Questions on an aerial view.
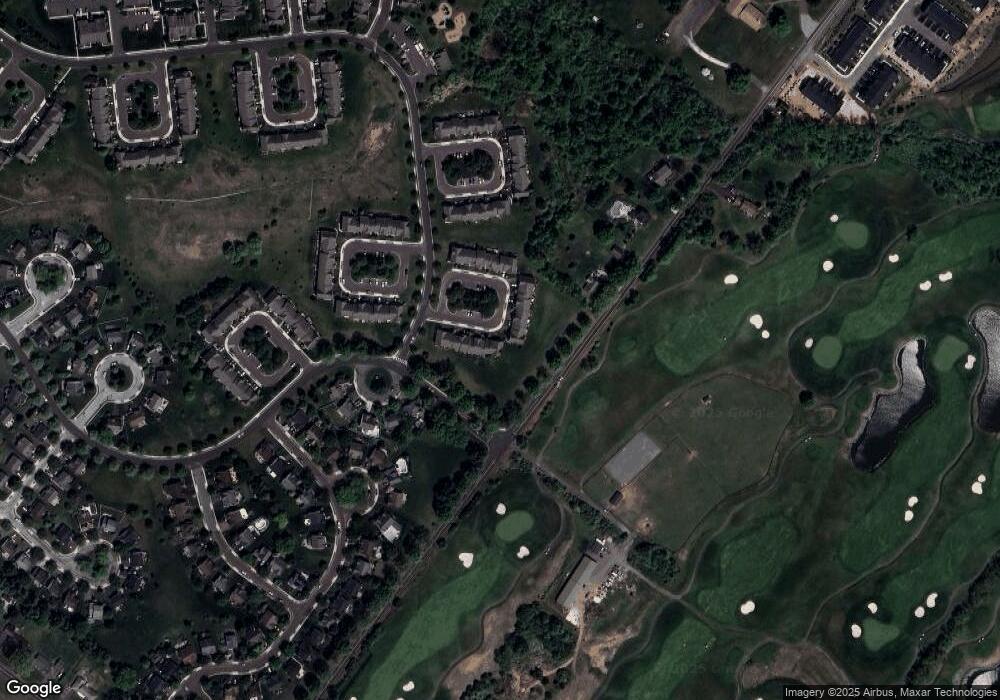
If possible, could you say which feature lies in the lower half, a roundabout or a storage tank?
roundabout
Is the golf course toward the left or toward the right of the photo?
right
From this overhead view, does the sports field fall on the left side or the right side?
right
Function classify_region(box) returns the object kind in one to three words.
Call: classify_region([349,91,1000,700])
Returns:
golf course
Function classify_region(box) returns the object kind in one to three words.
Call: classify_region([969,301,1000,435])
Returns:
pond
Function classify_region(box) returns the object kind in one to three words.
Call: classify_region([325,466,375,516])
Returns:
roundabout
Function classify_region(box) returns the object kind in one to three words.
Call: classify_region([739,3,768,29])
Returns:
barn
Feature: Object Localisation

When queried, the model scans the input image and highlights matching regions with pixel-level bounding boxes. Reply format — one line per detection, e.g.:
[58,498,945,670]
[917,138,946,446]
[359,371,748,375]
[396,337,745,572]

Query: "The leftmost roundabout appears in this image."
[27,255,72,300]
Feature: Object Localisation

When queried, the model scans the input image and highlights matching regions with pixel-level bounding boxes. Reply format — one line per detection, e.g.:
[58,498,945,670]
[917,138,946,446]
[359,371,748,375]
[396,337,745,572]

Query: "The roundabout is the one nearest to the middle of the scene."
[355,357,401,403]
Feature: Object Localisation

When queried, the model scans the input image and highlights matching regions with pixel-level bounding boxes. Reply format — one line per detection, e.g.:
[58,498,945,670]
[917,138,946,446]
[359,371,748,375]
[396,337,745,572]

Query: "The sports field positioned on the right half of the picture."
[597,373,797,558]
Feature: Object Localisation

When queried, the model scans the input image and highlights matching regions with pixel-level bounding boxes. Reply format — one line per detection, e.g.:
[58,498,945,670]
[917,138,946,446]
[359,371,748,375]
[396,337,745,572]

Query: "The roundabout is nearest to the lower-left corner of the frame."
[75,543,115,583]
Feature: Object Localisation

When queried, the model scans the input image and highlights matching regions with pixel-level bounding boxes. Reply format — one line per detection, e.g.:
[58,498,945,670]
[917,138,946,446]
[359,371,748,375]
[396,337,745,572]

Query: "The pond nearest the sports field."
[847,336,937,474]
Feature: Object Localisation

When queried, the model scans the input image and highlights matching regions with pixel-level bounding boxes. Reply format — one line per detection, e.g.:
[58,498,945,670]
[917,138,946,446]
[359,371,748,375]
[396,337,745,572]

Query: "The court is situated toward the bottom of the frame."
[605,432,660,483]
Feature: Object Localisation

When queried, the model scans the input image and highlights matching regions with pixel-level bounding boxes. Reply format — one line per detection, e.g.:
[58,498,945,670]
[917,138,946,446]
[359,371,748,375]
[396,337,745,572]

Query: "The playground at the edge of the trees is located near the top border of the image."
[432,2,466,43]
